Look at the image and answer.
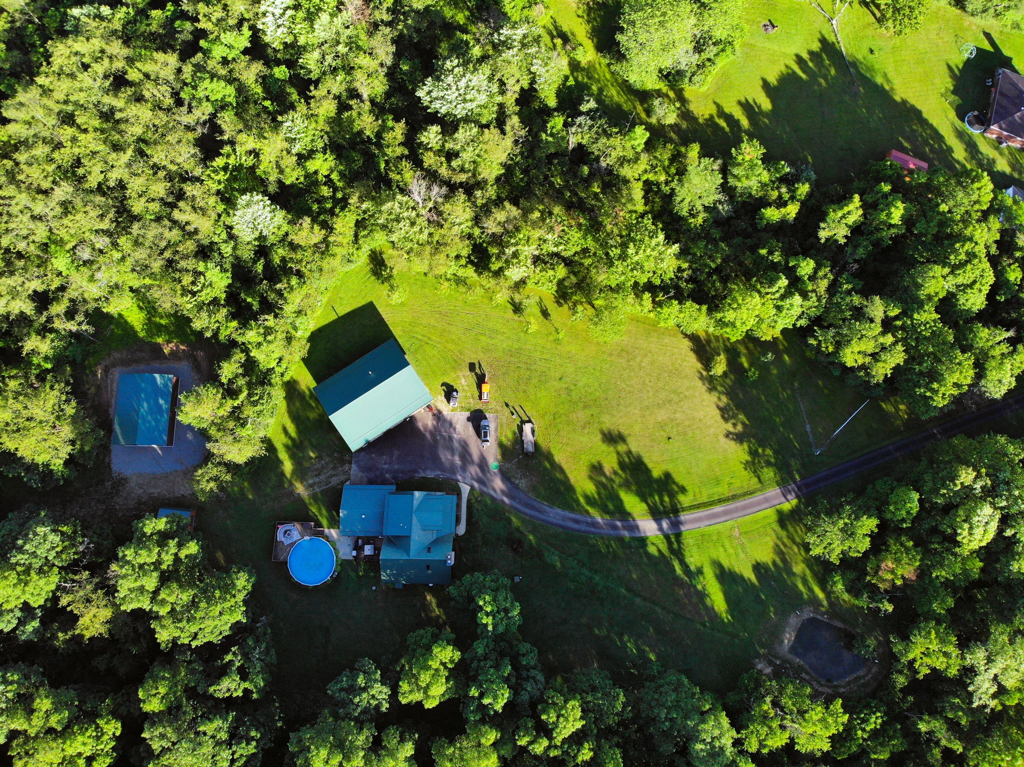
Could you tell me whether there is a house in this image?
Yes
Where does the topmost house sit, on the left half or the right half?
right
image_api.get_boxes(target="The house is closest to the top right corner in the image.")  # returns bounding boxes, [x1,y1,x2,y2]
[981,65,1024,140]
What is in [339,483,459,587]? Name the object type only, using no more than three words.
house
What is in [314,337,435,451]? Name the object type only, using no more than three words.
barn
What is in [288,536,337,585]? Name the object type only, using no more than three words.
swimming pool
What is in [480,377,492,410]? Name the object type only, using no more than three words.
vehicle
